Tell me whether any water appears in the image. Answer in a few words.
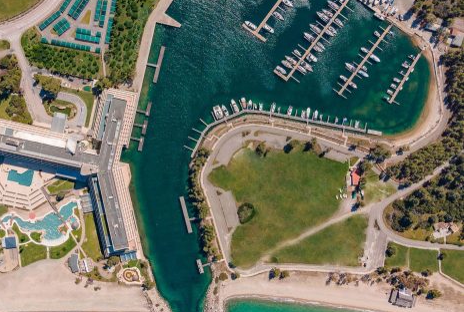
Yes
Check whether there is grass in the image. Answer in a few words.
Yes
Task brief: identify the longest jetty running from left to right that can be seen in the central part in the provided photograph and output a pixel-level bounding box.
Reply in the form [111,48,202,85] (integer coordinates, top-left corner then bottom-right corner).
[184,100,368,158]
